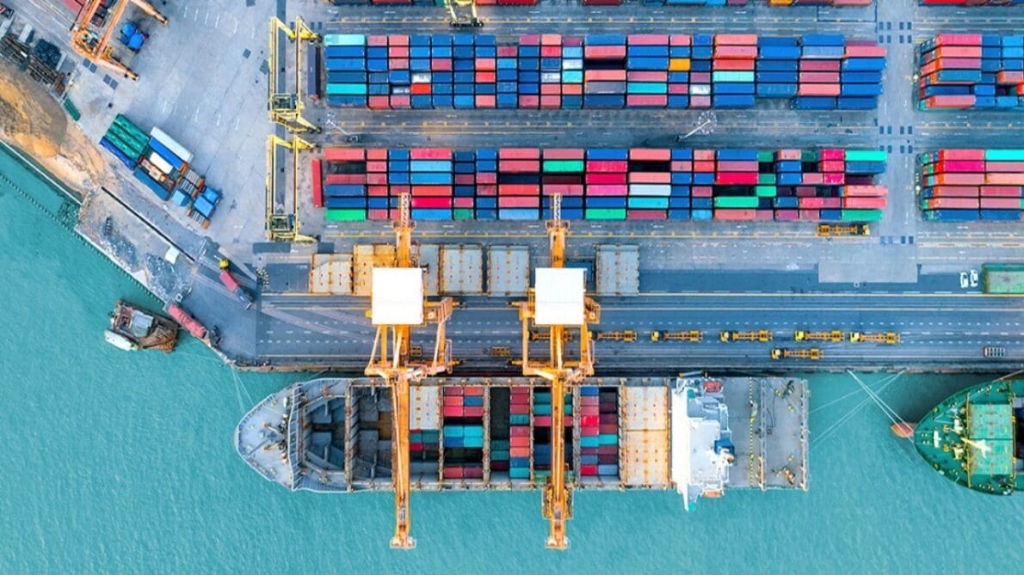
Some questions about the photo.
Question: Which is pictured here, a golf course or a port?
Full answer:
The picture captures a port.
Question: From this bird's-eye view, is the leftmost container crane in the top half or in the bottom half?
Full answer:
Seen from above, the leftmost container crane lies in the top half of the view.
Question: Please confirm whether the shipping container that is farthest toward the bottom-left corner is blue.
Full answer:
No, the color of the shipping container that is farthest toward the bottom-left corner is red.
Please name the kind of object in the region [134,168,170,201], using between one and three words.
shipping container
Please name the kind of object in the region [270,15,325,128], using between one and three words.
container crane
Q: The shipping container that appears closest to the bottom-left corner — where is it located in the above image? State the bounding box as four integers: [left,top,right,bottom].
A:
[167,301,210,338]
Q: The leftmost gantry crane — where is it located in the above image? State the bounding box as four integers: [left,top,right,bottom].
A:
[67,0,174,78]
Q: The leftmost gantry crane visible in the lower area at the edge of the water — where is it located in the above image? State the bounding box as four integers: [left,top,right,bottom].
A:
[359,194,466,548]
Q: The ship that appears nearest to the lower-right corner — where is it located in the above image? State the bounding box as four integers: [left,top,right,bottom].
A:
[891,375,1024,496]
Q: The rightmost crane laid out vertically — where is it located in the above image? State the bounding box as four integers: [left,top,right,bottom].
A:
[503,194,603,548]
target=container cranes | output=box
[503,194,603,548]
[270,15,325,128]
[67,0,174,78]
[268,134,323,239]
[359,194,466,548]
